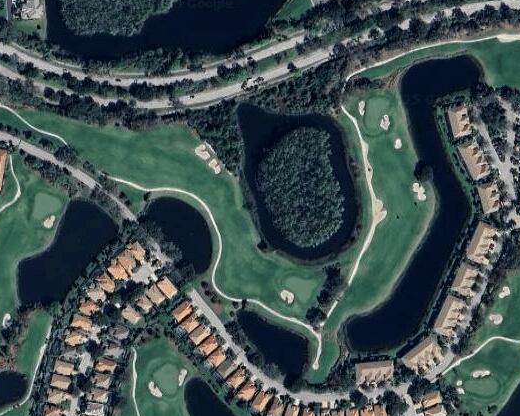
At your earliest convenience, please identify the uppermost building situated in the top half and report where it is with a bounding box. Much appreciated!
[22,1,45,19]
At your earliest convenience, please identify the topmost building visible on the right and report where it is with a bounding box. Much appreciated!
[449,107,474,139]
